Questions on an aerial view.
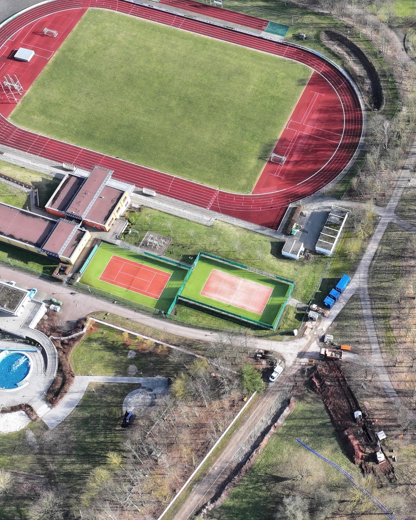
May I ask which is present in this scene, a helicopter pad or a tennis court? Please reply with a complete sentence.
There is a tennis court in the scene.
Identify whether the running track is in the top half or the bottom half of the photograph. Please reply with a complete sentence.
Seen from above, the running track lies in the top half of the view.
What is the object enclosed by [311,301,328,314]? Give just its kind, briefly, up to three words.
vehicle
